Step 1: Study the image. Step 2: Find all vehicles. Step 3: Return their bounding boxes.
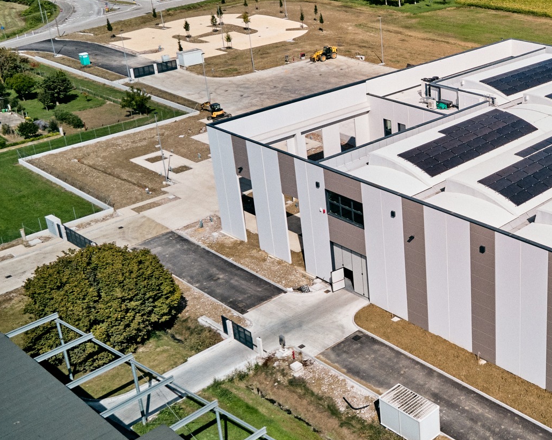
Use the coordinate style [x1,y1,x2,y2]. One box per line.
[195,101,228,120]
[310,46,340,64]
